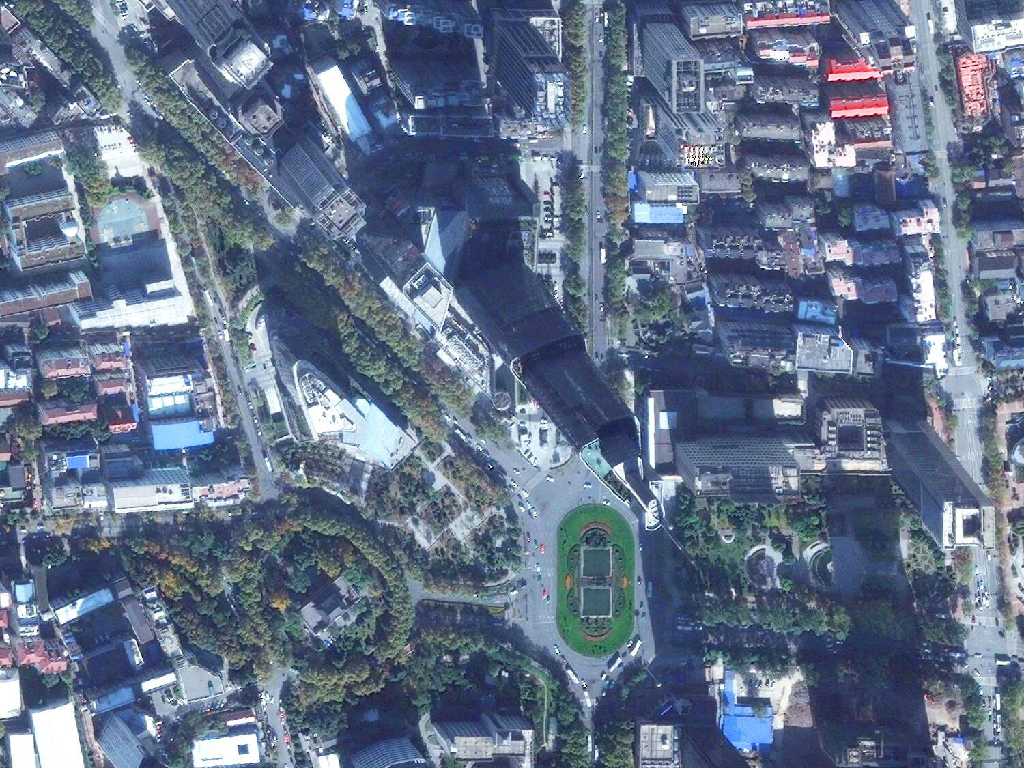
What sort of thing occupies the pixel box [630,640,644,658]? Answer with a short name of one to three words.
vehicle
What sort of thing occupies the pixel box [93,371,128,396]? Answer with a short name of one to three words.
house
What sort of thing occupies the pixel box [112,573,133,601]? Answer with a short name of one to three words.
shed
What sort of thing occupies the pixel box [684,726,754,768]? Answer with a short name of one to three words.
building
